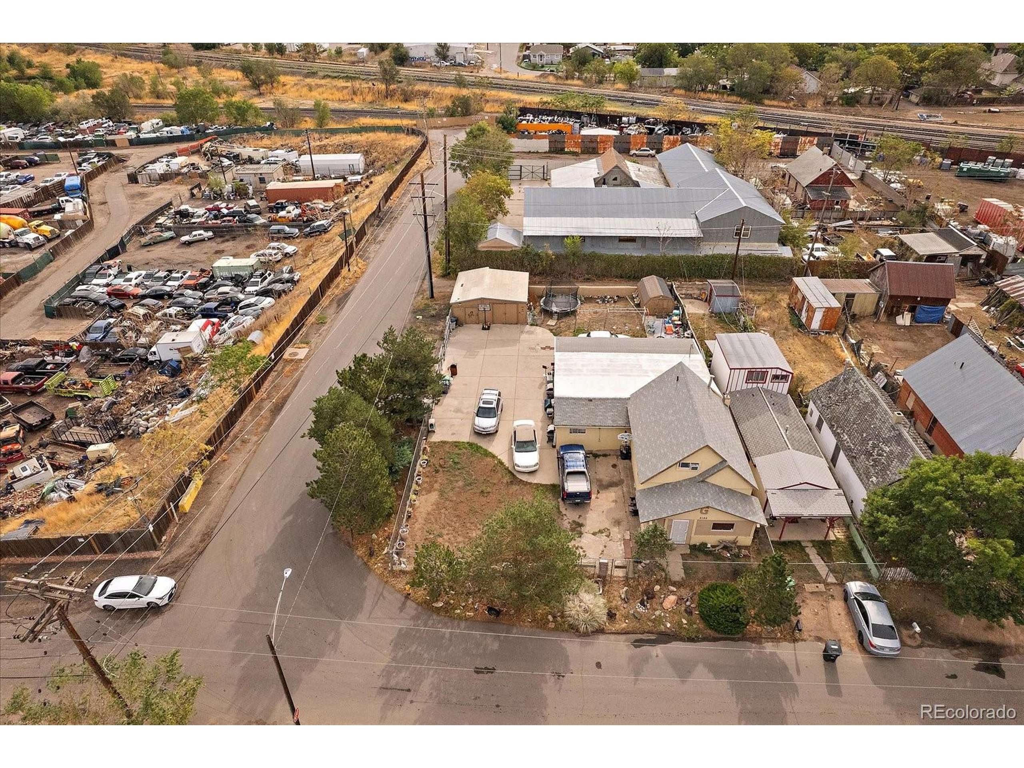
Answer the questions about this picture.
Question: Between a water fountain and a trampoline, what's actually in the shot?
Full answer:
The one in the frame is a trampoline.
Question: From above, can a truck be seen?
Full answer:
Yes, the picture does show a truck.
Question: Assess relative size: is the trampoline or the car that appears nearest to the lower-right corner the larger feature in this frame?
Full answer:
Compared with the trampoline, the car is the bigger one.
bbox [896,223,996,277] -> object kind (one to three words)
shed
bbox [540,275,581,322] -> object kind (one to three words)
trampoline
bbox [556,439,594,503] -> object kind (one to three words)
truck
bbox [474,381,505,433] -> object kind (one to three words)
car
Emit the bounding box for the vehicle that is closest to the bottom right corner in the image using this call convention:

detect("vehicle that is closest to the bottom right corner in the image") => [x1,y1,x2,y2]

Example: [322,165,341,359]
[843,580,904,663]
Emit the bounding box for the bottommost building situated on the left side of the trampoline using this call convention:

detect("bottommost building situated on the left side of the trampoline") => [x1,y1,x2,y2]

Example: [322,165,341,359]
[450,270,530,325]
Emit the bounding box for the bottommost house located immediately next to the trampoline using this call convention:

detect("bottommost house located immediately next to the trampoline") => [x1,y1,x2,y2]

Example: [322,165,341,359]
[552,338,767,546]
